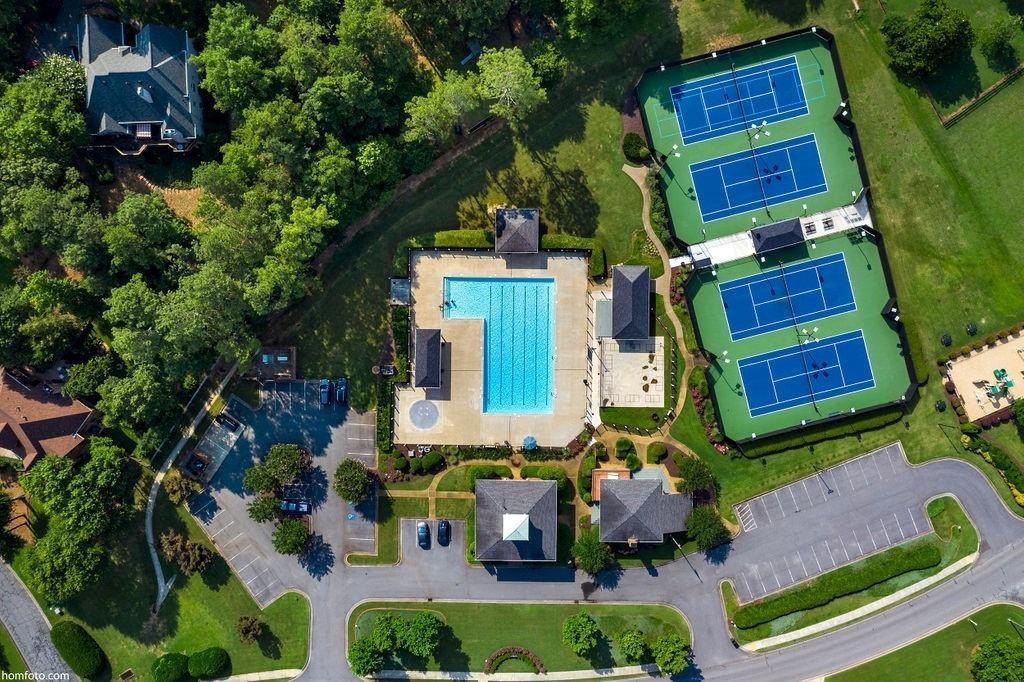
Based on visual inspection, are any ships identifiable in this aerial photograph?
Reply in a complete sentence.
No, the scene contains no ship.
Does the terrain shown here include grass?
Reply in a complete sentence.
Yes, there is grass in the image.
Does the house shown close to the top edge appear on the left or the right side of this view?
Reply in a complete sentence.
The house shown close to the top edge appears in the left half of the scene.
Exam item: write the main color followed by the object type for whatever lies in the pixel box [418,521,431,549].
blue vehicle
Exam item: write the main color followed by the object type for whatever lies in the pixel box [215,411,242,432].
black car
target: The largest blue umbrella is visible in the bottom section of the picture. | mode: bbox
[522,435,537,450]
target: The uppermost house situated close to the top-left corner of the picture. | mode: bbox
[77,13,204,158]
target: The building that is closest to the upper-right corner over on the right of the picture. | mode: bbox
[749,217,806,254]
